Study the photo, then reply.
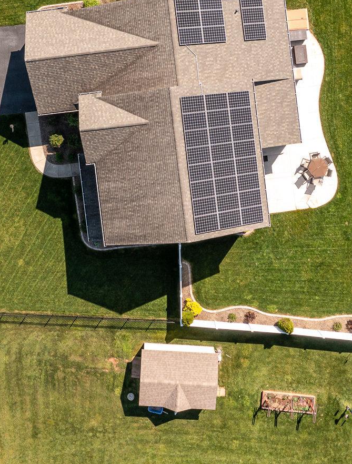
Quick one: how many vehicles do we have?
0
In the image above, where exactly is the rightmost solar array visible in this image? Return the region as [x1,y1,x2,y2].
[241,0,266,40]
